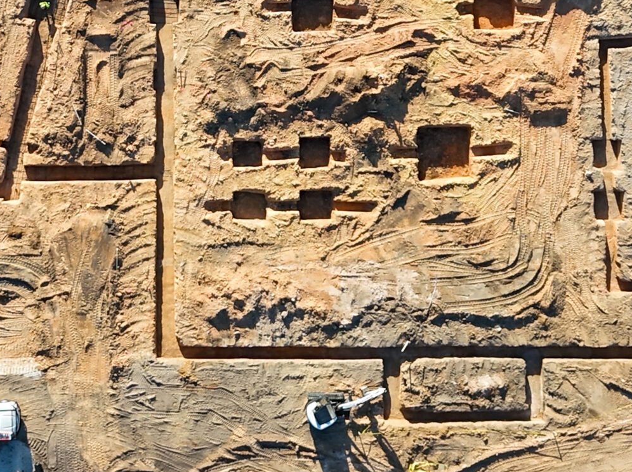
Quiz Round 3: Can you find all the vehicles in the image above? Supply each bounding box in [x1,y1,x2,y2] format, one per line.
[0,399,19,445]
[307,384,388,429]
